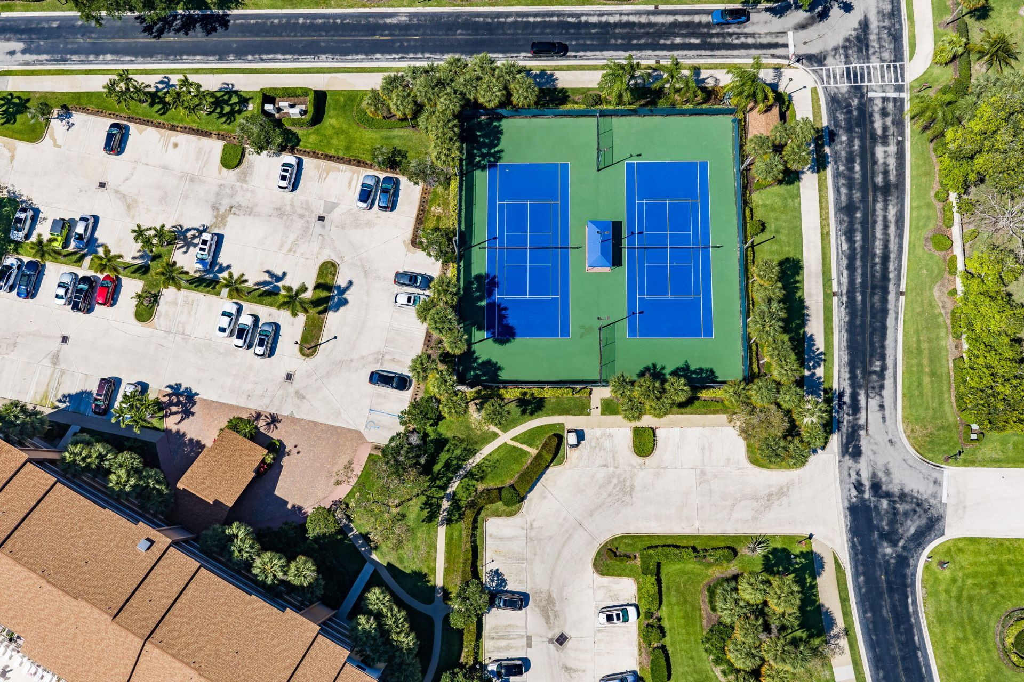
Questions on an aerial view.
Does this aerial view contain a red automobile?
Yes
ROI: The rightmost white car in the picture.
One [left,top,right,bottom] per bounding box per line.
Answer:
[598,604,639,624]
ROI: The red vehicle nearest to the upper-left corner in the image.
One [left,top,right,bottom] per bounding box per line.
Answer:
[95,274,118,308]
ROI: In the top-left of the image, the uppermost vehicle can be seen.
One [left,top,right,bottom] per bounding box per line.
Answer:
[103,123,125,155]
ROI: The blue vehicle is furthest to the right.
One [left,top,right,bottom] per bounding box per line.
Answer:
[711,7,750,26]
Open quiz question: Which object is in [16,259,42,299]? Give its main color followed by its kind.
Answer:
blue car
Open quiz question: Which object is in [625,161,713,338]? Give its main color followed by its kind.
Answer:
blue tennis court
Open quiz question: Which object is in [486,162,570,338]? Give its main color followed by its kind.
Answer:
blue tennis court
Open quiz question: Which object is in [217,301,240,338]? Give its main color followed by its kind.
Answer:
white car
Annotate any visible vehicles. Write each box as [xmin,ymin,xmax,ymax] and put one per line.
[253,322,278,359]
[95,274,118,308]
[711,7,750,26]
[356,175,378,210]
[11,207,34,241]
[567,429,579,449]
[55,272,78,306]
[194,232,218,271]
[490,592,525,611]
[531,39,568,58]
[598,604,639,624]
[599,671,640,682]
[217,301,240,338]
[277,155,298,192]
[49,218,72,250]
[487,661,525,681]
[91,378,116,415]
[72,214,95,249]
[392,270,431,292]
[234,314,257,350]
[393,292,426,311]
[377,177,399,212]
[71,276,97,314]
[16,259,42,299]
[103,123,125,155]
[0,257,24,293]
[368,370,411,391]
